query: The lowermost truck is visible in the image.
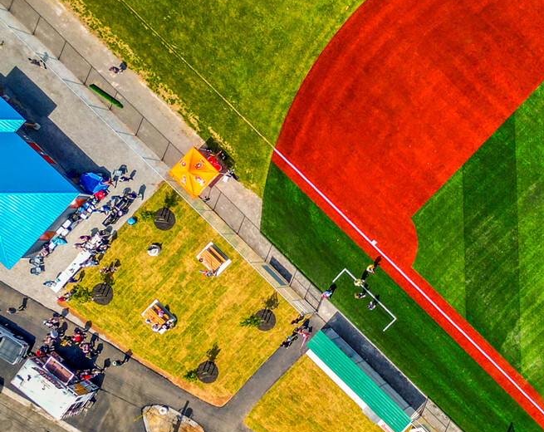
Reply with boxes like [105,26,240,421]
[13,354,102,419]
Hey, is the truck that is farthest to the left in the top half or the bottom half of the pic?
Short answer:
bottom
